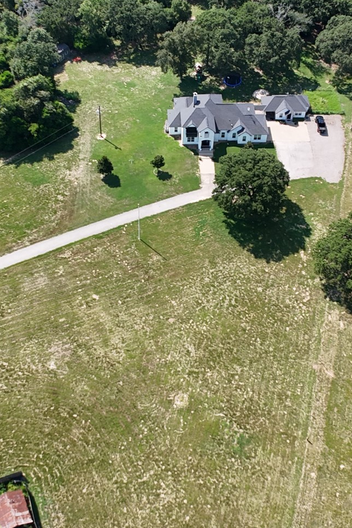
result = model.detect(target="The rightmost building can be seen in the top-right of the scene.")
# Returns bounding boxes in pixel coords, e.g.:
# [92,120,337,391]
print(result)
[261,94,312,122]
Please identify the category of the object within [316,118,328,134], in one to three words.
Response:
vehicle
